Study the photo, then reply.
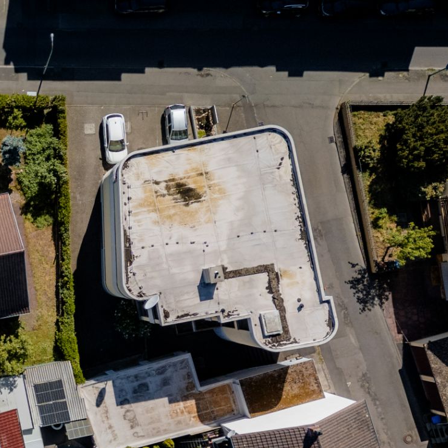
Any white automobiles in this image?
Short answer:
Yes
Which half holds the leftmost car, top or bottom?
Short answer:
top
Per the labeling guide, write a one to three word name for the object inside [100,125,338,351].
building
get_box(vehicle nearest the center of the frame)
[166,100,196,144]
